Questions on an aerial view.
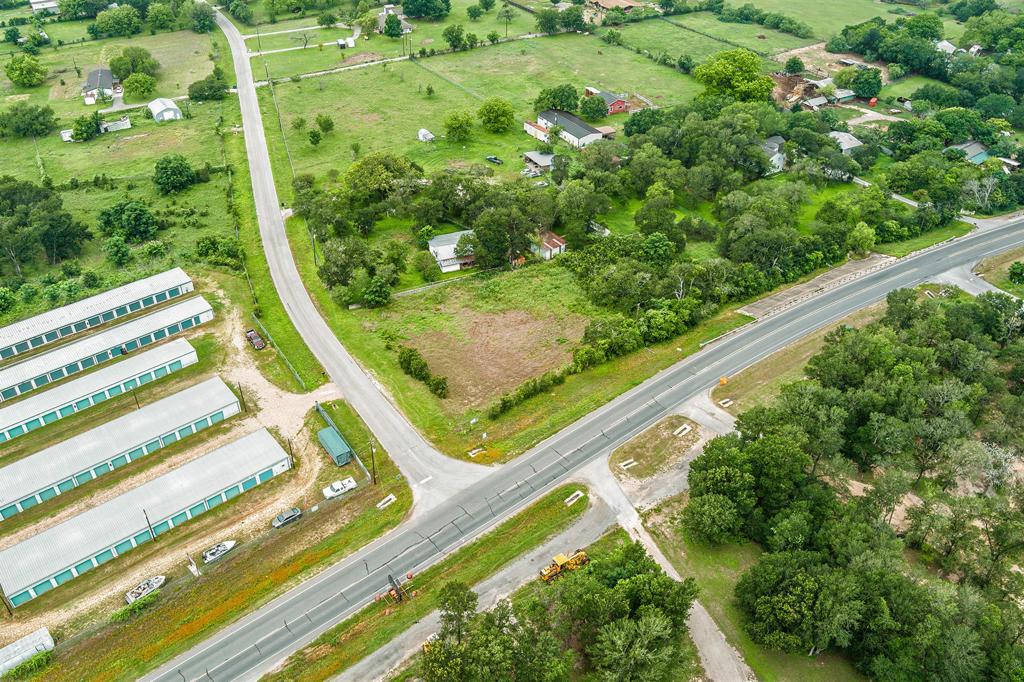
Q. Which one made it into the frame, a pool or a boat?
boat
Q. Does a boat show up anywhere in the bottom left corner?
Yes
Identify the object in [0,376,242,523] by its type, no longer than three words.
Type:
building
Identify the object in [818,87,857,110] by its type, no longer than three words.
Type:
barn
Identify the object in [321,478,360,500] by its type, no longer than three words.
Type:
truck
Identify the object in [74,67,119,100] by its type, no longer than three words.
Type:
house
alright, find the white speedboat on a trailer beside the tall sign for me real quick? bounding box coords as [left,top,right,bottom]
[198,538,241,563]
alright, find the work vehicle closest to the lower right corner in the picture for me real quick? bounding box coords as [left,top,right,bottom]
[544,554,595,587]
